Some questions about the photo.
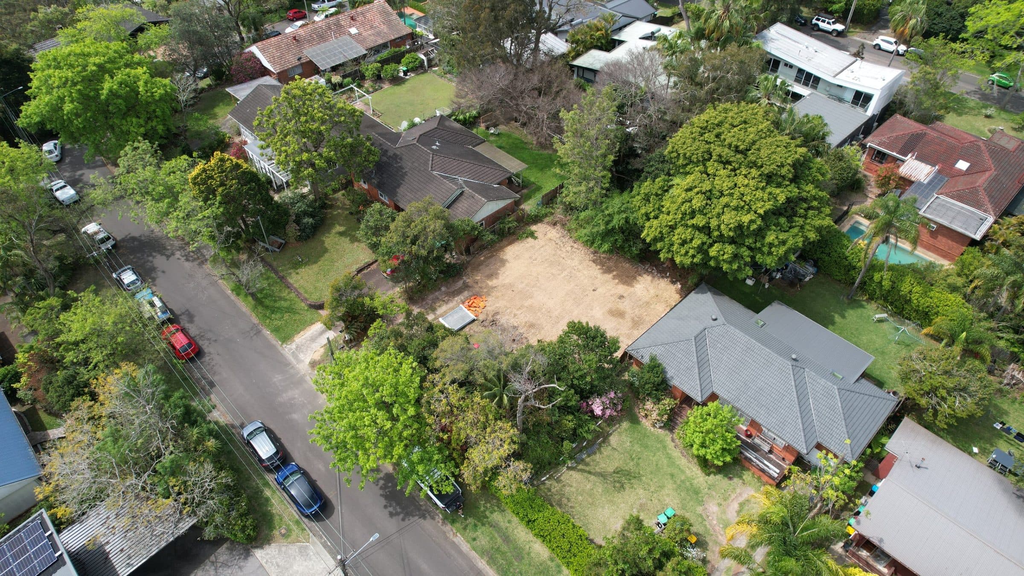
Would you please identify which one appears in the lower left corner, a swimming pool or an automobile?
automobile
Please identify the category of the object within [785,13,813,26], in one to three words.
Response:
vehicle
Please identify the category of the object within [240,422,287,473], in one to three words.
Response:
car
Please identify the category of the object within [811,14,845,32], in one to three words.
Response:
car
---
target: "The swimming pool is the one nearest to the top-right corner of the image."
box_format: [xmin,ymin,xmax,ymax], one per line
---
[841,215,937,270]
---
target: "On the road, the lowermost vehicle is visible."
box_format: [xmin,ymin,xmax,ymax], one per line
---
[276,464,325,519]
